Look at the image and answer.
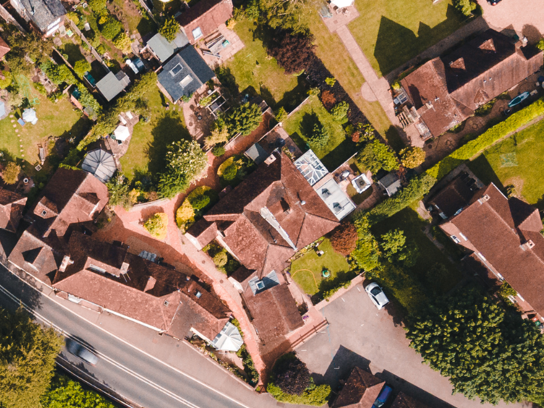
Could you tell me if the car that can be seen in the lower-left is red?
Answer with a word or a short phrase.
No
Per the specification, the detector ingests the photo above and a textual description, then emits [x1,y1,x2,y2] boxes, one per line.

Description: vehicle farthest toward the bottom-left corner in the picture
[62,337,99,365]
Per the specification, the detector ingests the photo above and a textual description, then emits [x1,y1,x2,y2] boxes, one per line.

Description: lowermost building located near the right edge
[421,172,544,337]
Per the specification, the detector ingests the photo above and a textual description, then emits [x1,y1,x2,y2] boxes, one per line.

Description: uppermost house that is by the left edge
[11,0,65,48]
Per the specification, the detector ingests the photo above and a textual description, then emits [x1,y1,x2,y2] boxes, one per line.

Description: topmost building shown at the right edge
[387,24,544,145]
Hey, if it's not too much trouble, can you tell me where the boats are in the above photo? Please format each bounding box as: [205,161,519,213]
[510,93,530,106]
